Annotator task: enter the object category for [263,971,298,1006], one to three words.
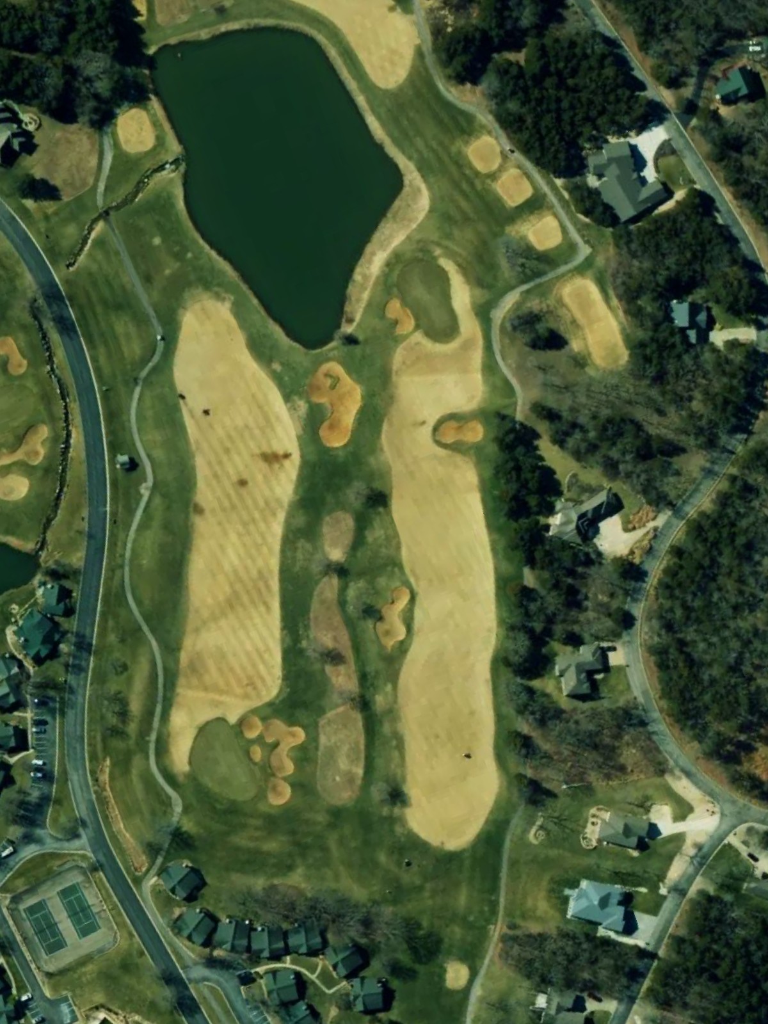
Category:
building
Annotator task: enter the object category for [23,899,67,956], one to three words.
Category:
tennis court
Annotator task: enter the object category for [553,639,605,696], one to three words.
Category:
house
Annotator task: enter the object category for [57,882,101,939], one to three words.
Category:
tennis court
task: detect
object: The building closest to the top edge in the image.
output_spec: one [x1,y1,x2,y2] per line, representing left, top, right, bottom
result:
[717,64,758,105]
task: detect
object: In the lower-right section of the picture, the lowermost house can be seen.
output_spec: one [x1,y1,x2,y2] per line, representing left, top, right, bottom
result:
[542,987,588,1024]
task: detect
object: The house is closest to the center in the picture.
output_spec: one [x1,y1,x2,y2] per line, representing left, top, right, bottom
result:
[553,487,619,547]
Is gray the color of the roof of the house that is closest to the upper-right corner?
No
